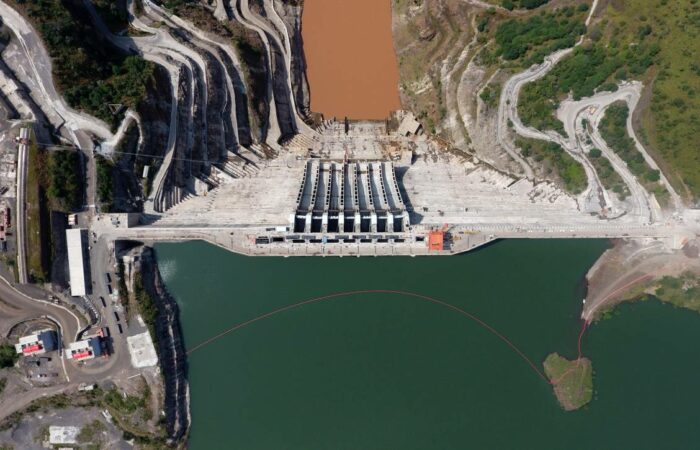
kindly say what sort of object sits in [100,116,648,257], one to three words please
dam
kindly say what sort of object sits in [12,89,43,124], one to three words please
building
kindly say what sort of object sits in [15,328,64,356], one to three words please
building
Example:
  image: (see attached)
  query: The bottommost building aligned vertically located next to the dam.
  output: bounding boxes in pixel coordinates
[66,229,90,296]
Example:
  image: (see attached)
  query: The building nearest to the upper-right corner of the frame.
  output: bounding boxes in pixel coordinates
[397,111,422,136]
